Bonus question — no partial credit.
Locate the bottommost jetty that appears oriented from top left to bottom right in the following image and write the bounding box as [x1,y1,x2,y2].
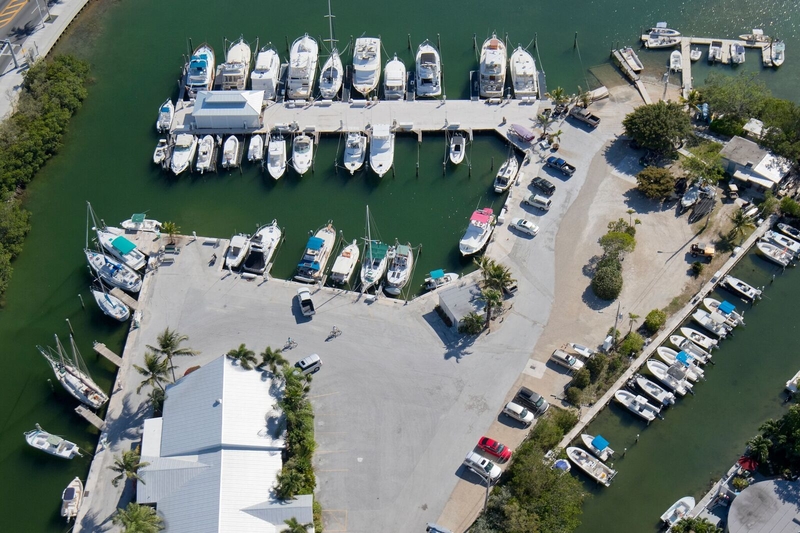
[75,404,104,431]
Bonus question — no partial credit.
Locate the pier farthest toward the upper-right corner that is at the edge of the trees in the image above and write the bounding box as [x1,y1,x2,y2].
[641,34,773,96]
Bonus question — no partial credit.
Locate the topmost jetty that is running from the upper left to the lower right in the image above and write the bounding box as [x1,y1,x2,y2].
[611,47,640,87]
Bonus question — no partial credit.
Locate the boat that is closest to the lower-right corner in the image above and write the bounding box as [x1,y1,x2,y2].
[656,497,695,531]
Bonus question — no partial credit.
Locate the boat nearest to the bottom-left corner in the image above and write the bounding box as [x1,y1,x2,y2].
[56,476,84,522]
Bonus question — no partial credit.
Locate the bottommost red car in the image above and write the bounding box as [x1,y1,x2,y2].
[477,436,512,461]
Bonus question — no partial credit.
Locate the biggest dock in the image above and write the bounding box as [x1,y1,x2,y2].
[171,100,540,154]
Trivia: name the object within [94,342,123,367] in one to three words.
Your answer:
pier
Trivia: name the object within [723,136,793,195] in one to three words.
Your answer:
house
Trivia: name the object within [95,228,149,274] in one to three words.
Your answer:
boat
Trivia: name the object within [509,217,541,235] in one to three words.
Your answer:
car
